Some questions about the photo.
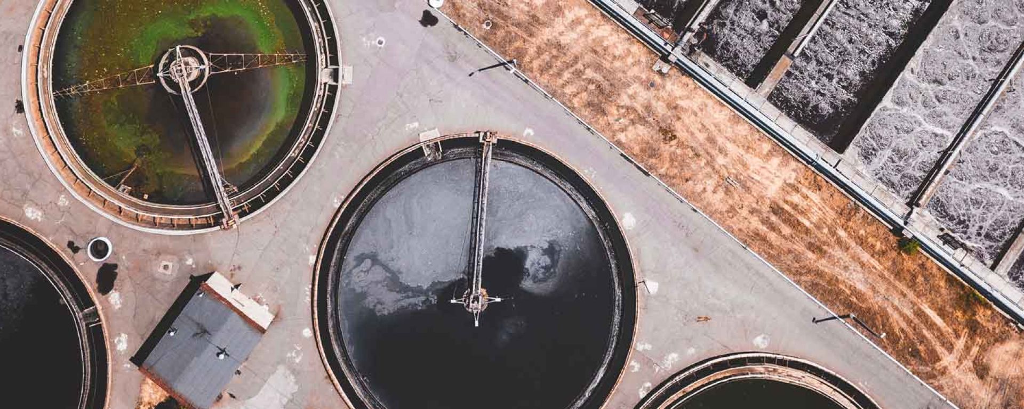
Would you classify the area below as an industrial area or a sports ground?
industrial area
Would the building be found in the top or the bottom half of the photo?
bottom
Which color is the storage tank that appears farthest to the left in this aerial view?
black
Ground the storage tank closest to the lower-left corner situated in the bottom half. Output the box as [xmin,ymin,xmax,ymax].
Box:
[0,216,113,409]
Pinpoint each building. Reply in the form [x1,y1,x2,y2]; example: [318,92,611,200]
[135,273,276,409]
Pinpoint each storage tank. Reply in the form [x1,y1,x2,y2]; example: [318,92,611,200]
[21,0,341,233]
[312,132,638,409]
[638,351,879,409]
[0,216,113,409]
